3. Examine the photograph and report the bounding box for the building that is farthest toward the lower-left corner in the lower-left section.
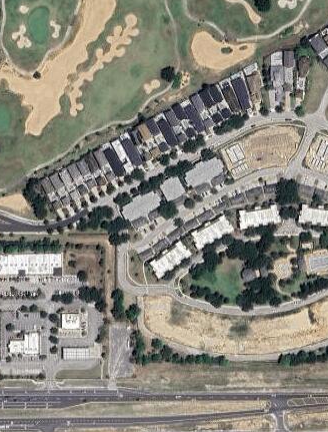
[9,331,39,354]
